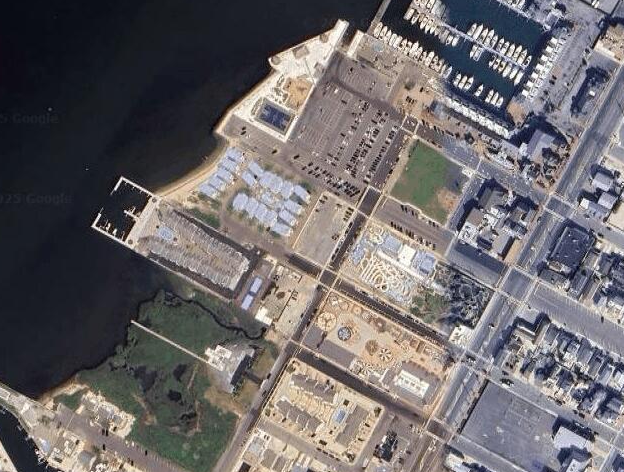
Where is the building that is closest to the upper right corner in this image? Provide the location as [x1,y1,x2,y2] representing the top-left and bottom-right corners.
[603,22,624,55]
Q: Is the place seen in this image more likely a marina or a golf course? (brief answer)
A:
marina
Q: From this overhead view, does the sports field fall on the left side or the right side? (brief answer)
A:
right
